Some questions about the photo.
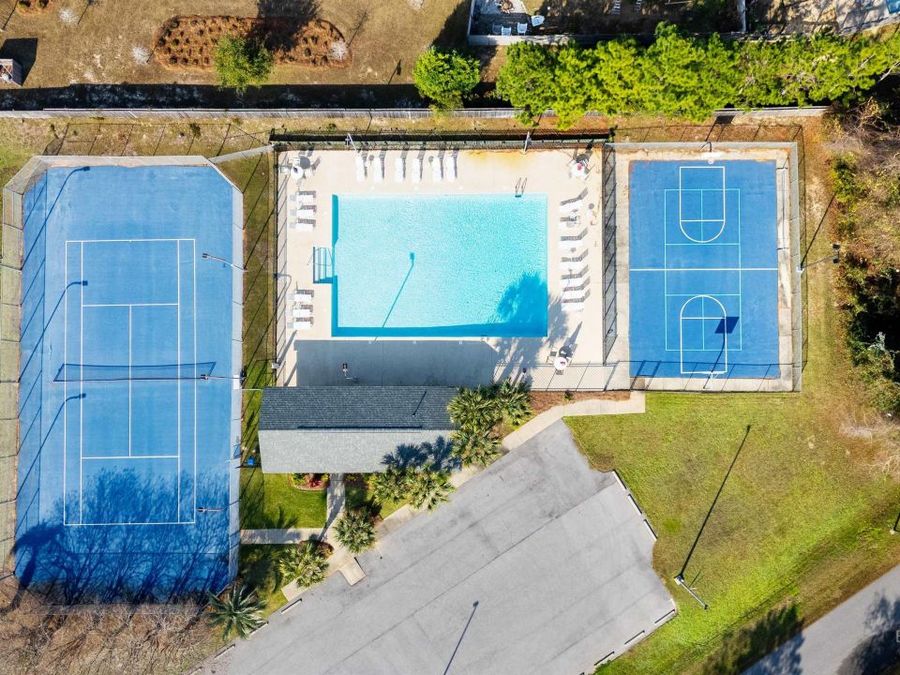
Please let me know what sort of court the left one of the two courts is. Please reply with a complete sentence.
It looks like the left one of the two courts is a tennis court.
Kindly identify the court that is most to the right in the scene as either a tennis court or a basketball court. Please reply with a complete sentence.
I'd identify the court that is most to the right as a basketball court.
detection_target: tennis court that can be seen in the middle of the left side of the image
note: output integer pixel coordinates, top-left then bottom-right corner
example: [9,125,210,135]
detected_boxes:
[14,167,243,605]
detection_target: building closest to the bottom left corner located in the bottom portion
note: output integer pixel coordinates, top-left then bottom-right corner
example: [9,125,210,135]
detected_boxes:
[258,388,460,473]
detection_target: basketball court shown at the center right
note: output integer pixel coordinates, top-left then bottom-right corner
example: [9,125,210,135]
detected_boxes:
[604,149,792,392]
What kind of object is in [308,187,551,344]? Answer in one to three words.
swimming pool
